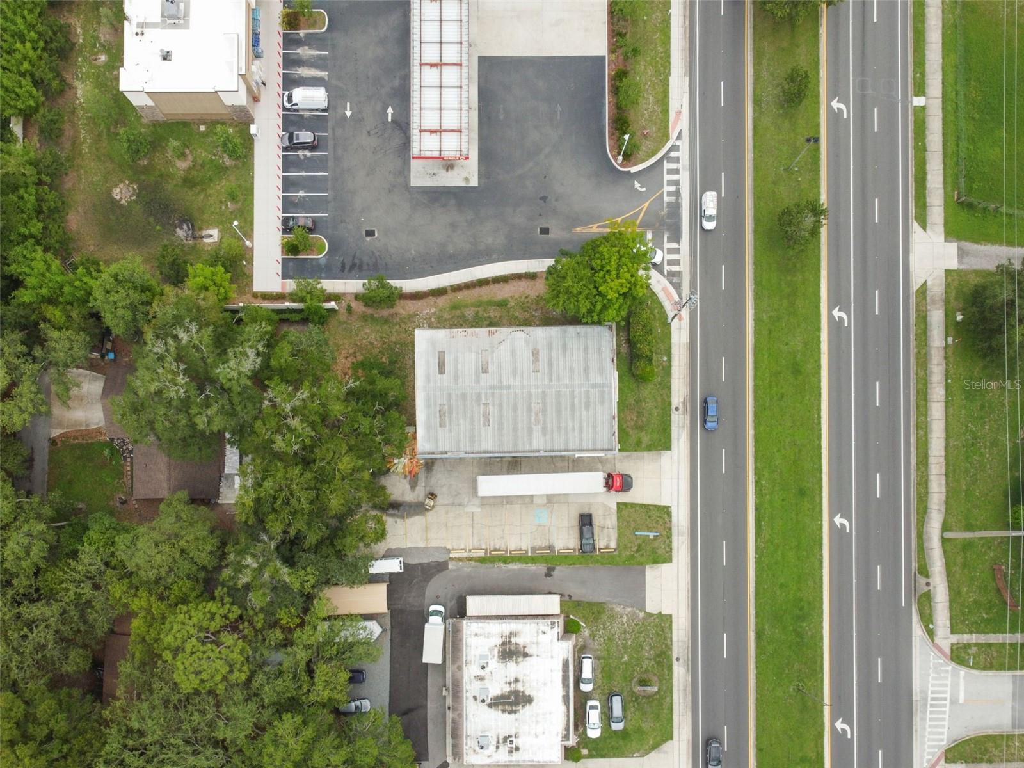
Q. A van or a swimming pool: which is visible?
van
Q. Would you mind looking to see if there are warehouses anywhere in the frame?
Yes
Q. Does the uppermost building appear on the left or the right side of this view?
left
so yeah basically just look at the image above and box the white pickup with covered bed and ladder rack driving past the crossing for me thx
[700,188,719,232]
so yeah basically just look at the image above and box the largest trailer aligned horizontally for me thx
[477,472,602,497]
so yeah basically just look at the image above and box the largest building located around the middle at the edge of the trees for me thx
[414,322,619,460]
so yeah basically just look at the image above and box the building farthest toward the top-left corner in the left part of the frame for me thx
[120,0,258,121]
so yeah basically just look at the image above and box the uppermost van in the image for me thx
[284,83,328,111]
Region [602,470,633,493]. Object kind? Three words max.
truck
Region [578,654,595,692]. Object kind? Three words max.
car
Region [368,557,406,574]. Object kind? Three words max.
vehicle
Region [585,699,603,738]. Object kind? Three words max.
car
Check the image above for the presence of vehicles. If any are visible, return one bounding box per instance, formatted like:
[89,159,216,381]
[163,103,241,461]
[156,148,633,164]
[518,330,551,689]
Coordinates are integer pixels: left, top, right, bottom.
[281,130,318,152]
[422,603,445,665]
[282,214,317,233]
[284,83,328,111]
[424,491,439,510]
[342,669,371,685]
[338,696,372,714]
[368,557,406,574]
[608,692,626,730]
[578,512,597,553]
[578,654,595,692]
[700,188,719,232]
[585,699,603,738]
[702,396,719,431]
[705,737,724,768]
[602,470,633,493]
